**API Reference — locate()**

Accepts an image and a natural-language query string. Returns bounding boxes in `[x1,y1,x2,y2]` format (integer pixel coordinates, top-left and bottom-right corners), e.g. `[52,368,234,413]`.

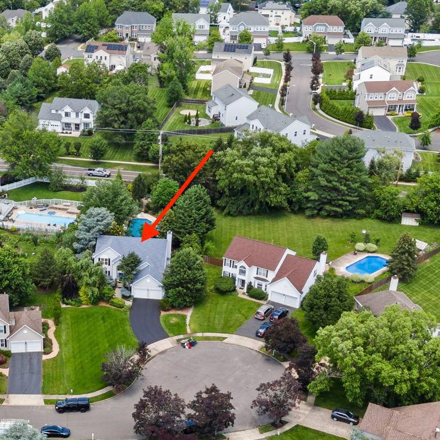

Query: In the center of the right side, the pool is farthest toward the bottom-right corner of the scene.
[344,255,390,276]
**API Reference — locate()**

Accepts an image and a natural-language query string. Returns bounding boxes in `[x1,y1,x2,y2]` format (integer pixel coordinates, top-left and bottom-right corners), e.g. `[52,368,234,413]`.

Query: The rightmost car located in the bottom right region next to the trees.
[329,406,362,426]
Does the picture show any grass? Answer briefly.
Yes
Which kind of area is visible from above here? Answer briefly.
residential area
